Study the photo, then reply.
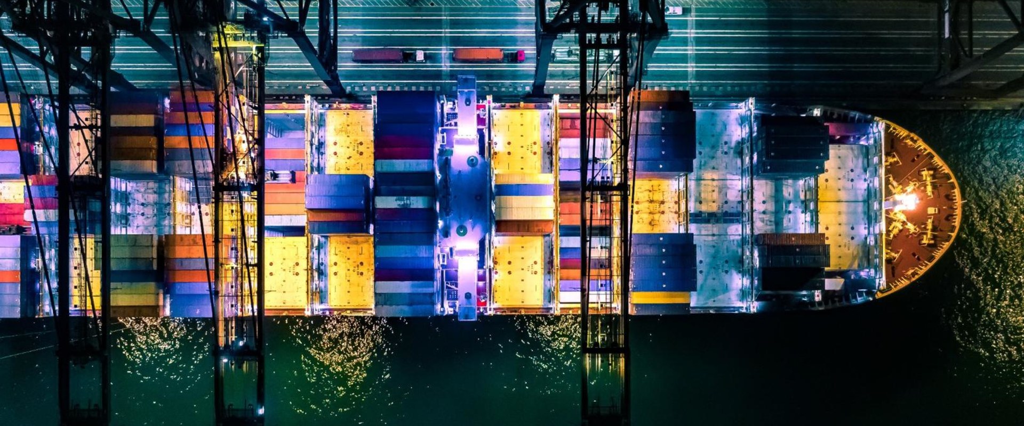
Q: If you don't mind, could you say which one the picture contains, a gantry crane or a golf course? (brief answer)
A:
gantry crane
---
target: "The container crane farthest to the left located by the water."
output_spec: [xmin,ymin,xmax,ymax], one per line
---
[0,0,214,426]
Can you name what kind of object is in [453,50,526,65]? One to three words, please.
vehicle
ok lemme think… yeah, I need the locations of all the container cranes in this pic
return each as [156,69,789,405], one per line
[142,0,357,426]
[907,0,1024,97]
[520,0,689,426]
[0,0,214,426]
